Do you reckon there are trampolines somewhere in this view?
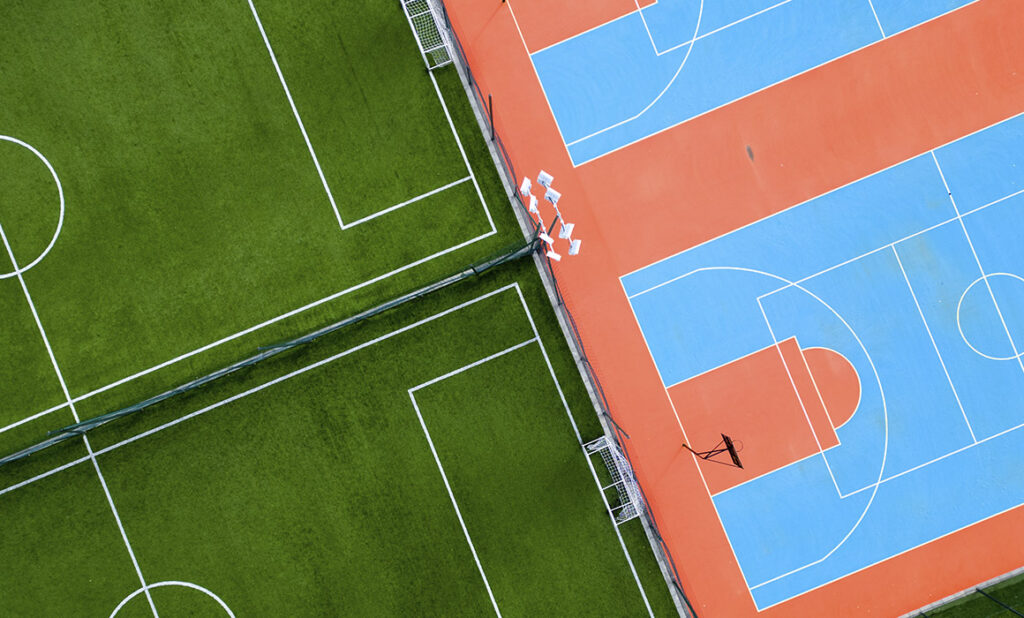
No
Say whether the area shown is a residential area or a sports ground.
sports ground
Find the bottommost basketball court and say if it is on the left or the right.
right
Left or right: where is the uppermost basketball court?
right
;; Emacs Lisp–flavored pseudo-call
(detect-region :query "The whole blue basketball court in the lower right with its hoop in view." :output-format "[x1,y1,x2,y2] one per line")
[619,112,1024,612]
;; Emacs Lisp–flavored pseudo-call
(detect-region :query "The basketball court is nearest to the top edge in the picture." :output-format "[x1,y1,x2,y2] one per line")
[505,0,981,168]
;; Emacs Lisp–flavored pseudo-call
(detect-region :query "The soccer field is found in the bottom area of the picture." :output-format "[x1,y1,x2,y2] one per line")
[0,253,681,618]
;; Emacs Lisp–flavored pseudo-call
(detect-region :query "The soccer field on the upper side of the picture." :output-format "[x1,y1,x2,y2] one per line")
[0,0,528,460]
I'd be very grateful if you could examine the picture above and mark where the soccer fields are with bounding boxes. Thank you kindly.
[0,253,681,618]
[0,0,528,460]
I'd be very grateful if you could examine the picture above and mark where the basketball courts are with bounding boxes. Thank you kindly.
[505,0,981,168]
[619,112,1024,612]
